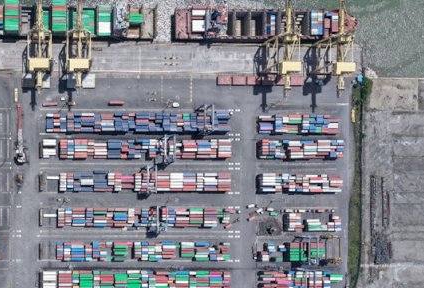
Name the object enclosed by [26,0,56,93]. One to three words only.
container crane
